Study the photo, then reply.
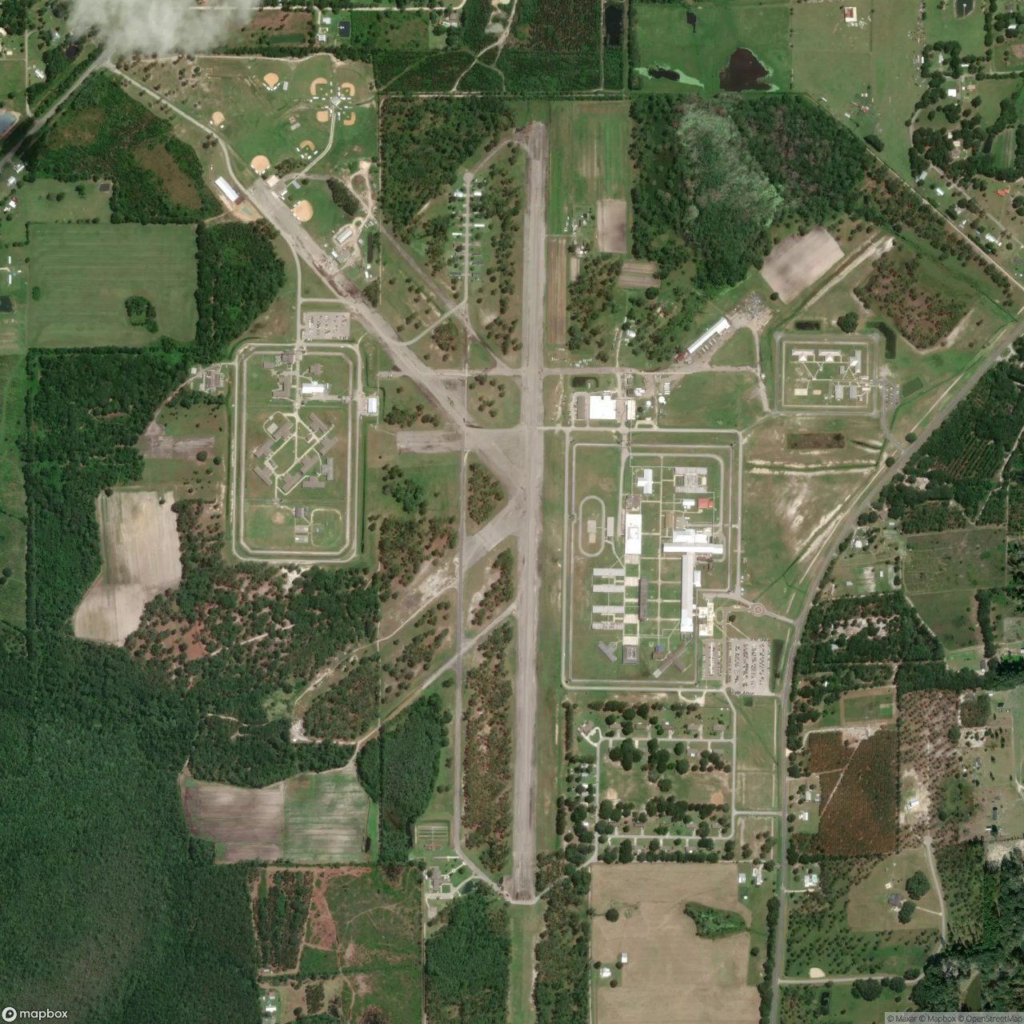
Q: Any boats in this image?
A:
No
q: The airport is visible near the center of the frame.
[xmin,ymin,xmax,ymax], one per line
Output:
[250,122,756,905]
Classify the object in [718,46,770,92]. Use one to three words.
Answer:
pond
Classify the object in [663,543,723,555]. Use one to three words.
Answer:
building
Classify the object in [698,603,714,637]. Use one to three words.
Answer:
building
